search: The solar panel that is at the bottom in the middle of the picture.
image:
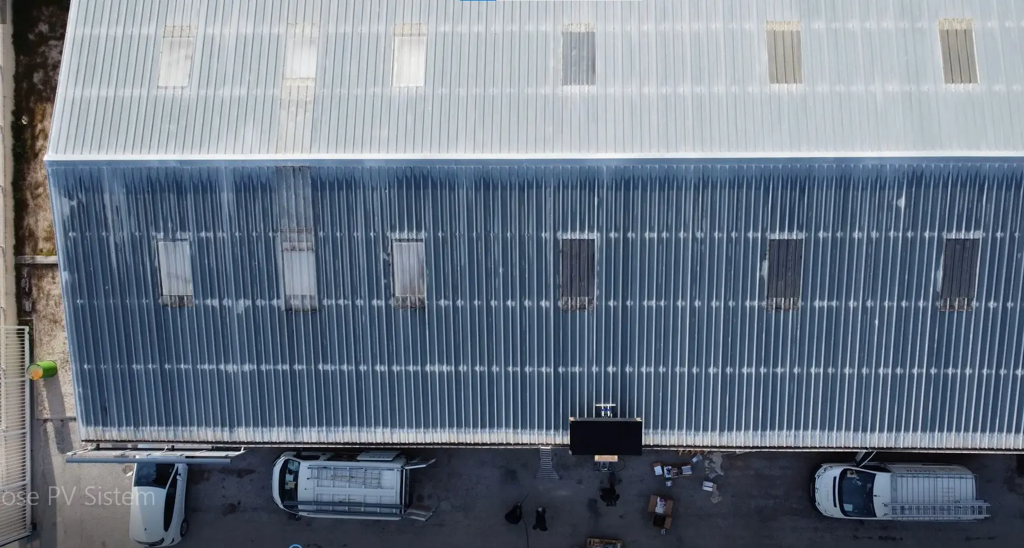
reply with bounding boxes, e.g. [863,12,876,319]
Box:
[570,417,642,456]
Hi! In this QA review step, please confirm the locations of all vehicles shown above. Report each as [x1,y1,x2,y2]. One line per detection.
[270,450,431,523]
[127,448,194,548]
[811,451,981,527]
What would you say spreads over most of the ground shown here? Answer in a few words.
buildings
